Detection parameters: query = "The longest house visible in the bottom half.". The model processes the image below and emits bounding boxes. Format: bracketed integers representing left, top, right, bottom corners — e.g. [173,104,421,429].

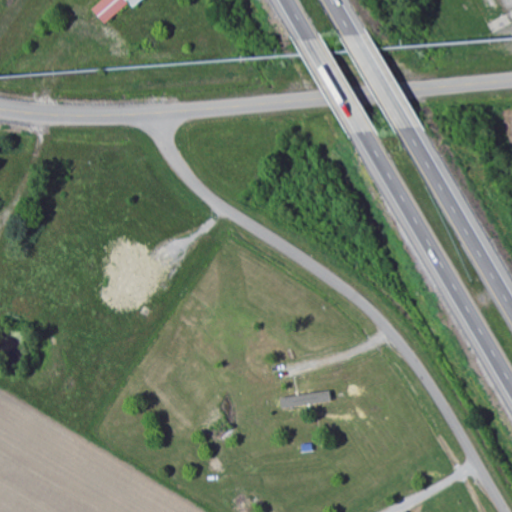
[280,392,332,408]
